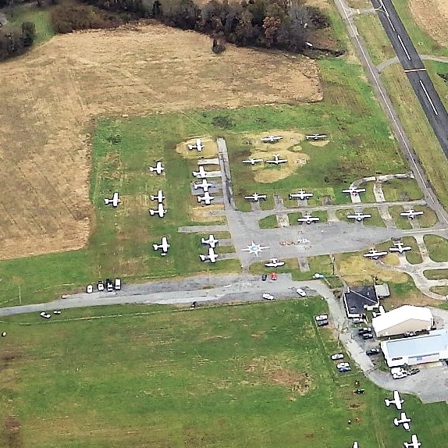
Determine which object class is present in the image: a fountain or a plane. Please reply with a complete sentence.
It is a plane that can be seen here.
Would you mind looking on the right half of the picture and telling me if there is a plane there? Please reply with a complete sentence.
Yes, looking on the right half of the picture, one can make out a plane.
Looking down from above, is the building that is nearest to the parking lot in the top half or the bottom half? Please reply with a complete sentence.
It is in the bottom half that the building that is nearest to the parking lot appears.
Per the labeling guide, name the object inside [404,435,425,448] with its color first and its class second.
white airplane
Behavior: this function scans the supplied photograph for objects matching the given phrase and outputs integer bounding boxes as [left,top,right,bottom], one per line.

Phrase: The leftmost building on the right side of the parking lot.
[344,284,390,319]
